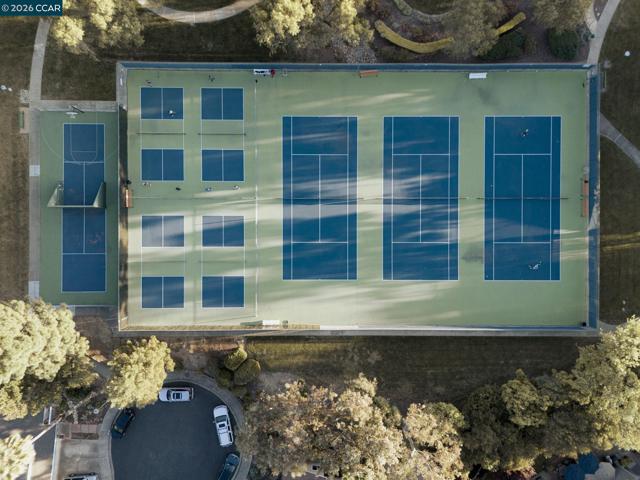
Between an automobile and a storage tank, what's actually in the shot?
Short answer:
automobile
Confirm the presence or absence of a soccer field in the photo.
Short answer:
No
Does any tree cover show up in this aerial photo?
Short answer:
Yes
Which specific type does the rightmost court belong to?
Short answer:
tennis court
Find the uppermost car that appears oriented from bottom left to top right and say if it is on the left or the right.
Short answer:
left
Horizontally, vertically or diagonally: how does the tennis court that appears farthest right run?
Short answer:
vertically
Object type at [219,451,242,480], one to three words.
car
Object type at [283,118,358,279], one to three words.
tennis court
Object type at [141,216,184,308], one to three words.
sports court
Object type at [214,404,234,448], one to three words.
vehicle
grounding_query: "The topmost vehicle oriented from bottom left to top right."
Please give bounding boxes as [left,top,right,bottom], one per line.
[110,407,136,440]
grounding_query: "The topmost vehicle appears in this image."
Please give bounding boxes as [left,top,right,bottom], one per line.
[159,388,195,404]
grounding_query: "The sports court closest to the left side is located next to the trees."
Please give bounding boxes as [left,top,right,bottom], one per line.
[39,110,121,305]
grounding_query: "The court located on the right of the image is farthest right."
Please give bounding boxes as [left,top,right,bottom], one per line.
[486,117,560,279]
